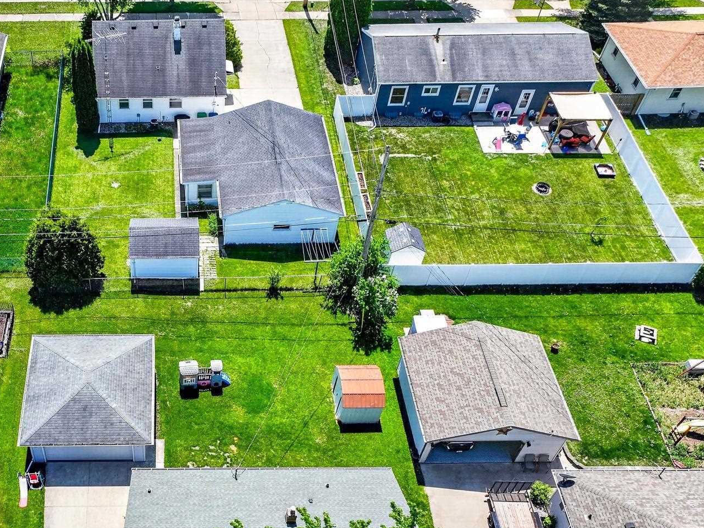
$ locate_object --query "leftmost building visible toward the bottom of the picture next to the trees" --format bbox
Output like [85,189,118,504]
[17,334,156,477]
